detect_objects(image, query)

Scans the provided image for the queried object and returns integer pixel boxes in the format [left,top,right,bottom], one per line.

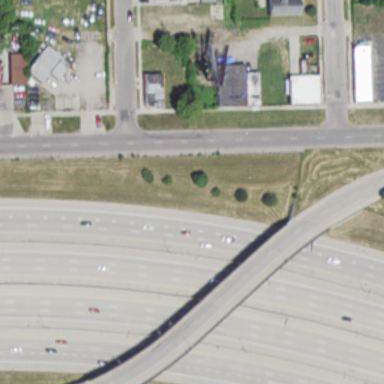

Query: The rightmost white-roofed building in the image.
[354,45,372,102]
